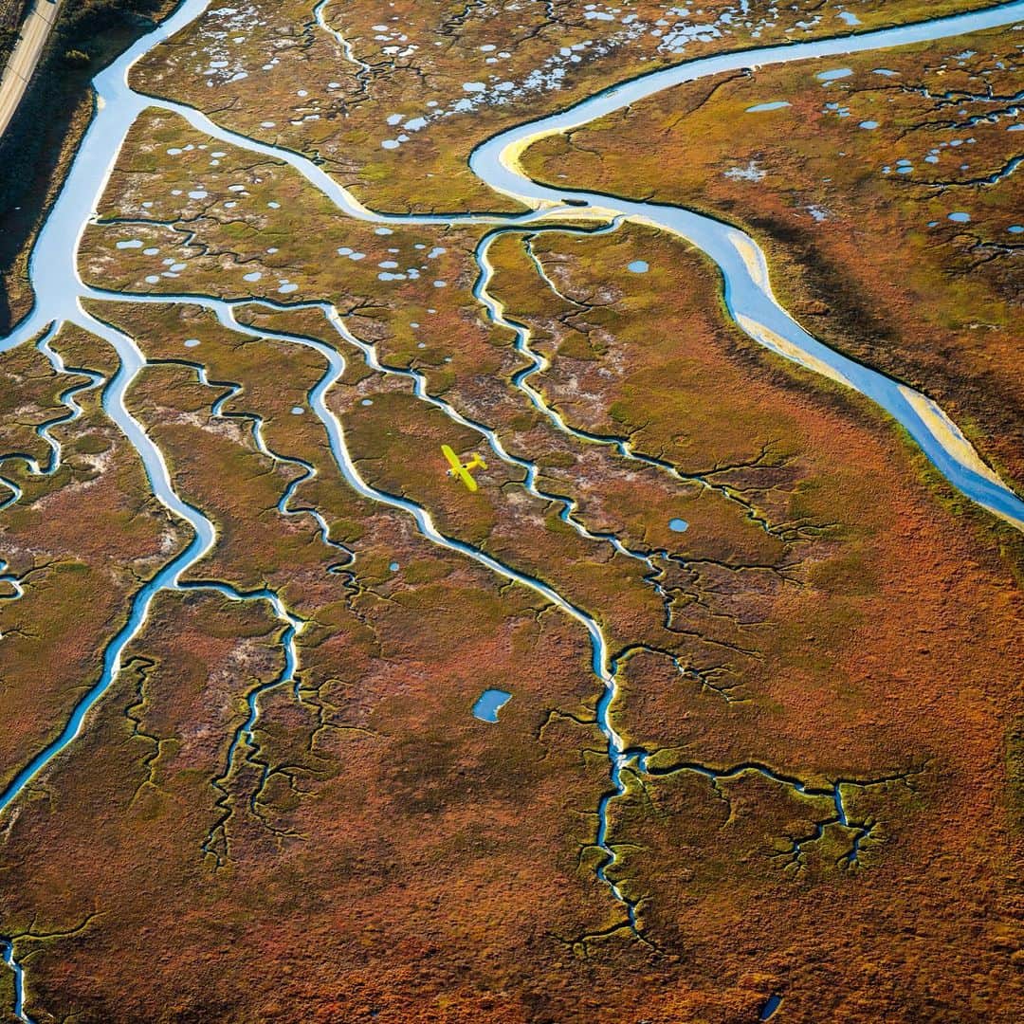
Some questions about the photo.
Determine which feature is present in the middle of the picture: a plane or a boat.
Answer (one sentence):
The feature located in the middle of the picture is a plane.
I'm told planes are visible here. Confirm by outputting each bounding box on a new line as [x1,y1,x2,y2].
[443,446,490,489]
